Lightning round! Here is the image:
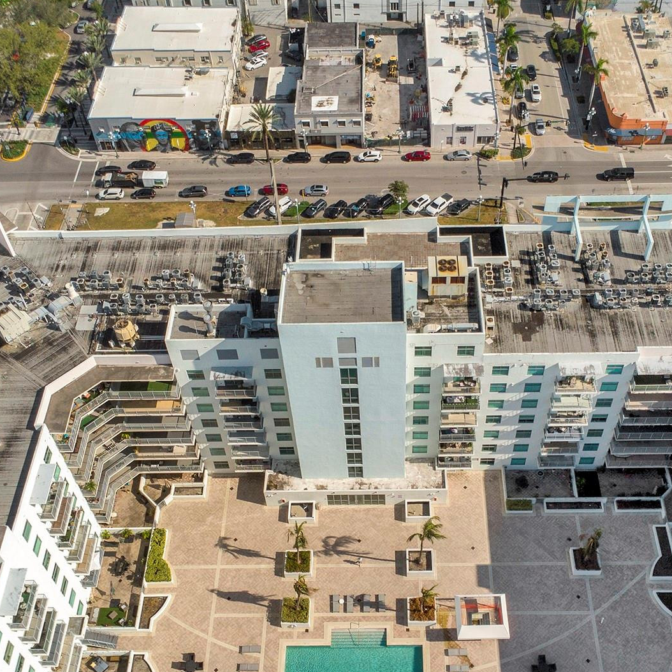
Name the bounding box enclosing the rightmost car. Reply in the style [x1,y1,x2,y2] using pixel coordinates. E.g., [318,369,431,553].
[604,167,633,182]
